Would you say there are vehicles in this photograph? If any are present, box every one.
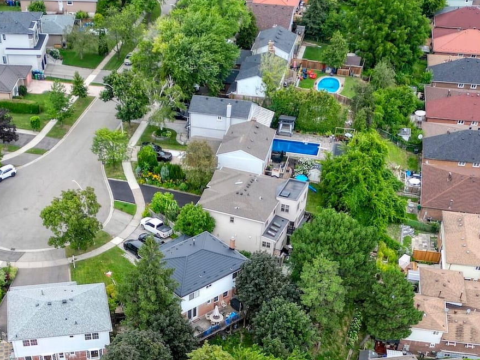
[141,143,172,160]
[0,164,17,182]
[140,218,175,239]
[121,241,146,261]
[124,51,134,64]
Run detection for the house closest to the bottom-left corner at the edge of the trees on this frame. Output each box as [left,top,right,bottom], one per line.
[7,282,113,360]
